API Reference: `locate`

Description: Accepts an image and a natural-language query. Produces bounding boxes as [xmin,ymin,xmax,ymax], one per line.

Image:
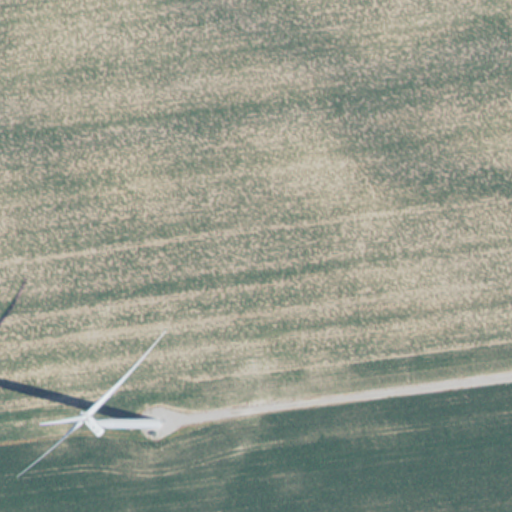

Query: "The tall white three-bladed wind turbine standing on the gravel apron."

[18,330,165,477]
